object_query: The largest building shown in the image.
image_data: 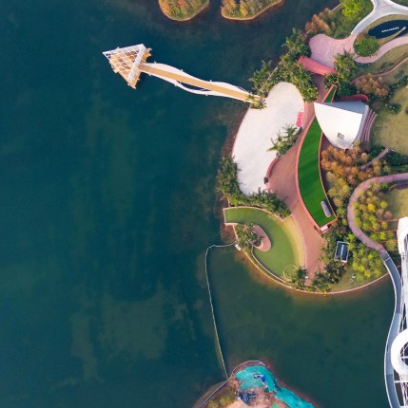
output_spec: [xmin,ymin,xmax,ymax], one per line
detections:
[313,99,366,149]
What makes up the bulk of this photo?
water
